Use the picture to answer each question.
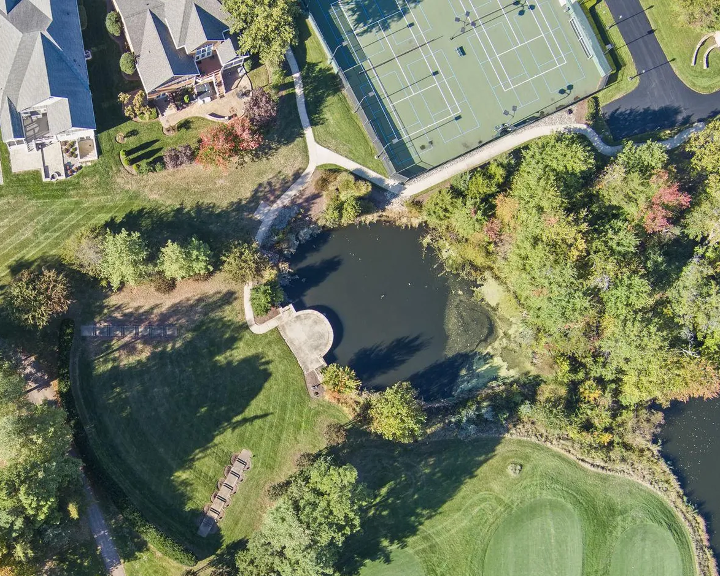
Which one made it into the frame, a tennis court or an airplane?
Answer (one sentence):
The one in the frame is a tennis court.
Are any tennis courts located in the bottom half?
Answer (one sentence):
No, the scene shows no tennis court in the bottom half.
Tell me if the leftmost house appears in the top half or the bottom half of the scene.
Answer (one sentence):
You can find the leftmost house in the top half.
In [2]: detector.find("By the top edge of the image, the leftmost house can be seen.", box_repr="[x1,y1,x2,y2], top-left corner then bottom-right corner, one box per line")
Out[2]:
[0,0,98,181]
